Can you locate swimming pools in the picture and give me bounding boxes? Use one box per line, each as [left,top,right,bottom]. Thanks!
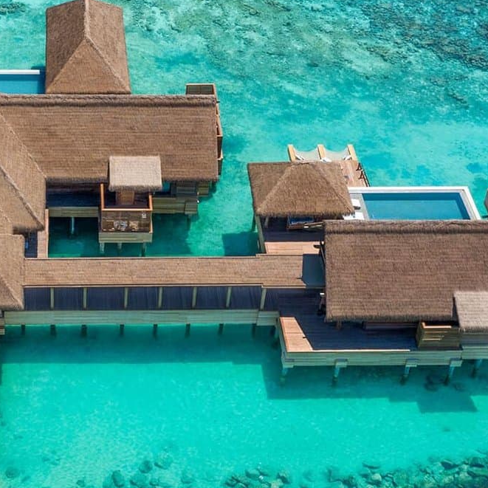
[348,186,481,218]
[0,69,45,93]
